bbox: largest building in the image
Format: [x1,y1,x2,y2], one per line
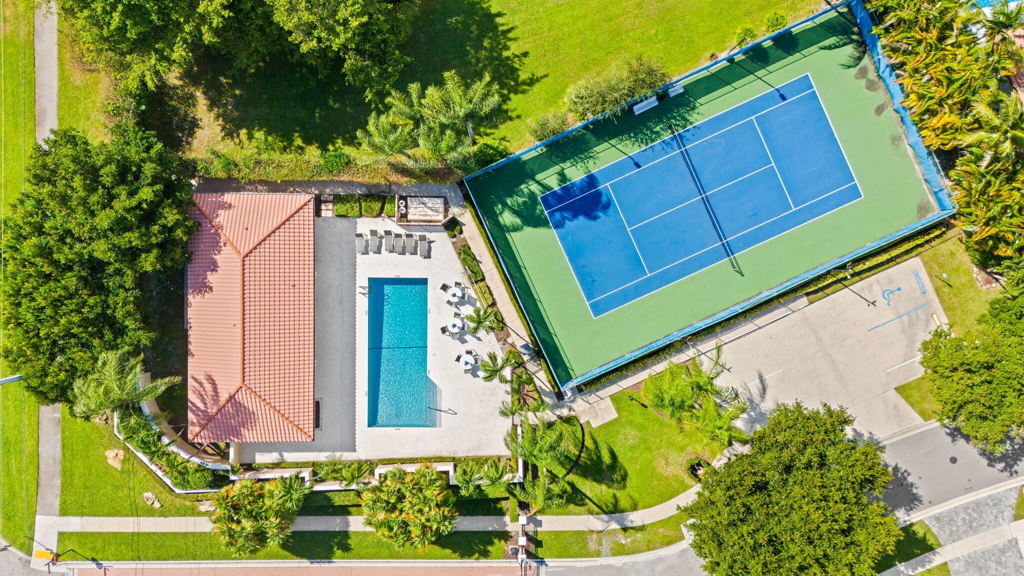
[187,192,318,443]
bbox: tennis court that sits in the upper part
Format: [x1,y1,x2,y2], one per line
[469,13,936,385]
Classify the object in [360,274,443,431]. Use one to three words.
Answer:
swimming pool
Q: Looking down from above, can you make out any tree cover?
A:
Yes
